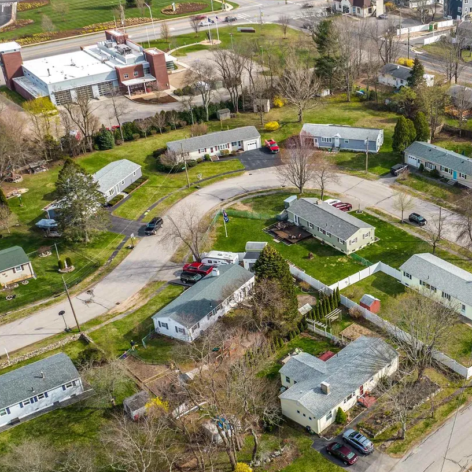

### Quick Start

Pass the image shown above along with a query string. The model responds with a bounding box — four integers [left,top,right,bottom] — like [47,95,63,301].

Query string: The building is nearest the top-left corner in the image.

[0,28,187,112]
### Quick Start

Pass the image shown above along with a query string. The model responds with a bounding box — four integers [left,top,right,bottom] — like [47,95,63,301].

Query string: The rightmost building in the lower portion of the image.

[399,255,472,319]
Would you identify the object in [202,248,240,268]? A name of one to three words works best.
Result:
vehicle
